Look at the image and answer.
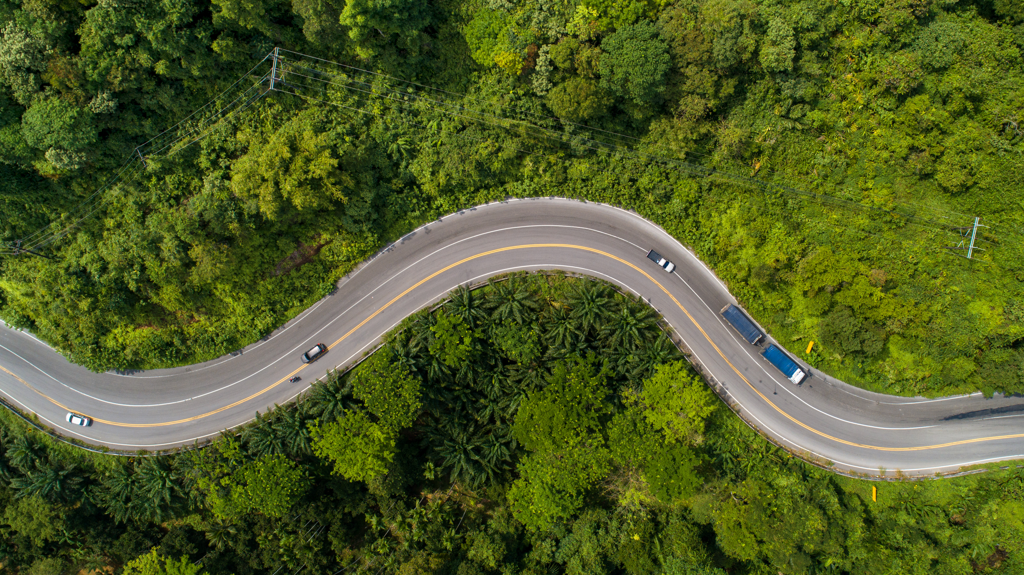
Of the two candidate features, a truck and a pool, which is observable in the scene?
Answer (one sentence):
It is a truck that can be seen here.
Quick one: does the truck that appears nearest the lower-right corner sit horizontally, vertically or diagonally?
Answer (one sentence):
In this picture, the truck that appears nearest the lower-right corner is oriented diagonally.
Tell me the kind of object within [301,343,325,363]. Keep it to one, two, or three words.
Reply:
car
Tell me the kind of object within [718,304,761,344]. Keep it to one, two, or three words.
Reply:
trailer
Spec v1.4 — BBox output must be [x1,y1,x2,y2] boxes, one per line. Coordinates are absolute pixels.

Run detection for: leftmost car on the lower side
[66,413,91,427]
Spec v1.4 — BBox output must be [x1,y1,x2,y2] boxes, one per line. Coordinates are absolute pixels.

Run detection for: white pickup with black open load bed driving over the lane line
[646,250,673,272]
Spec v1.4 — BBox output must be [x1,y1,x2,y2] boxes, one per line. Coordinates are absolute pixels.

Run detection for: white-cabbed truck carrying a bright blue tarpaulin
[757,342,804,383]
